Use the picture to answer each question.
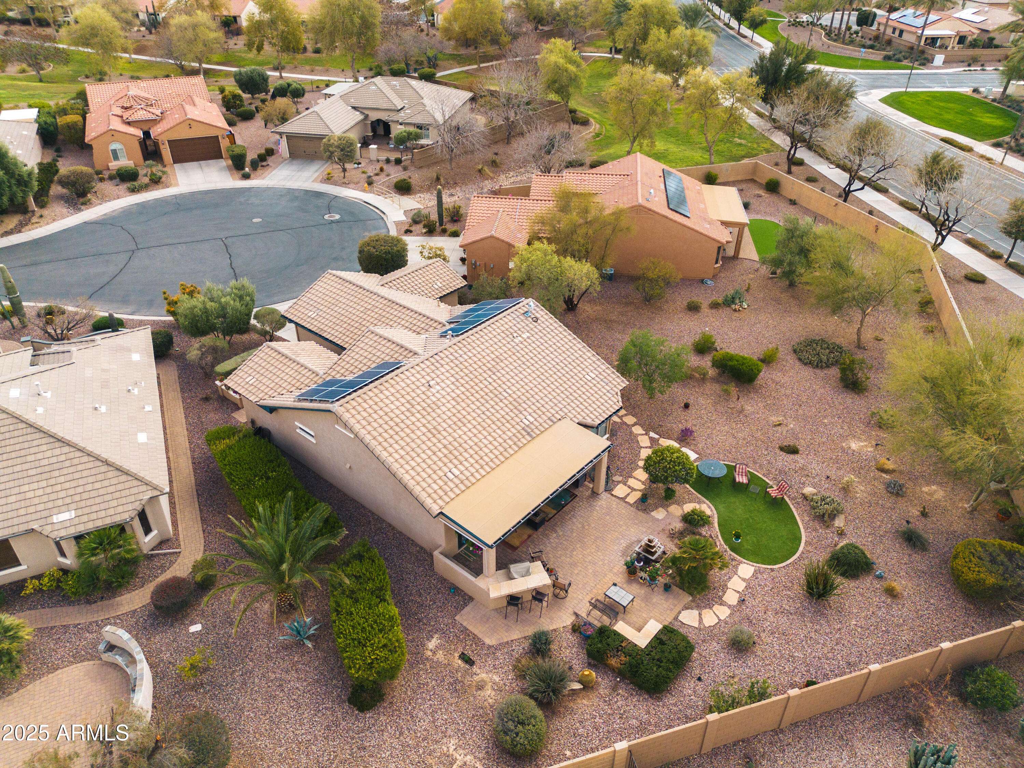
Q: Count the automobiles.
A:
0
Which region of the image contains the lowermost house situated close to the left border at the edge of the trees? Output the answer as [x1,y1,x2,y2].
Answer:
[0,324,181,579]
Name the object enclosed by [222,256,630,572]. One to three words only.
house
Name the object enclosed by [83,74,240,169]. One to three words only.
house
